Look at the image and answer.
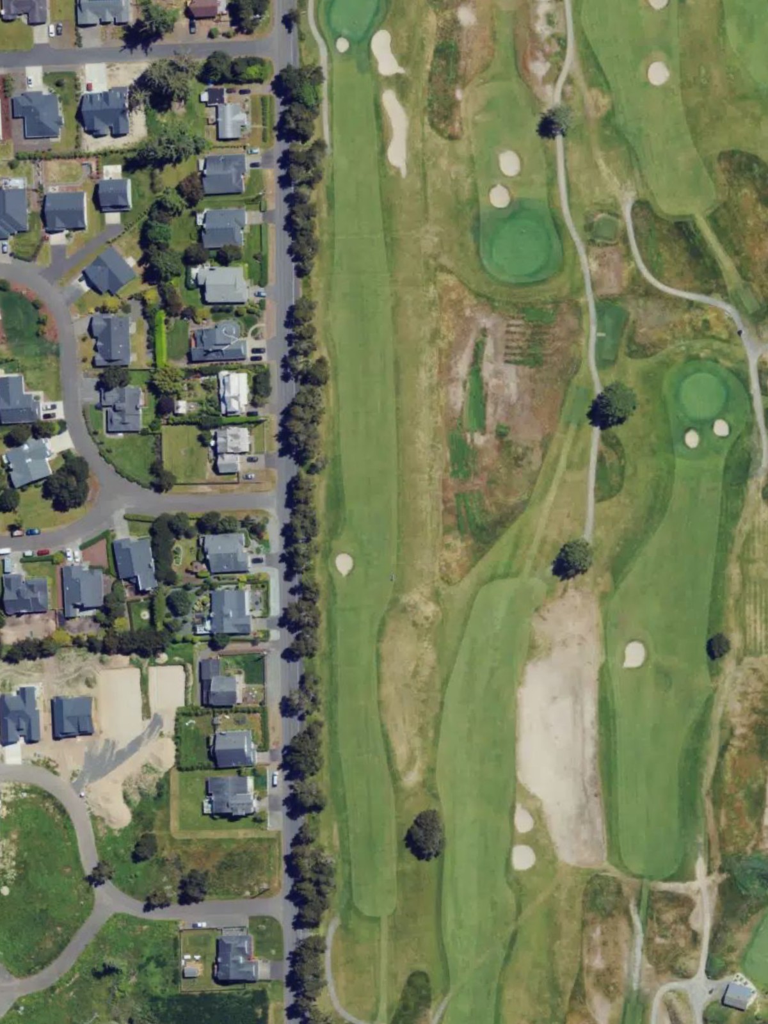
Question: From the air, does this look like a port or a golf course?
golf course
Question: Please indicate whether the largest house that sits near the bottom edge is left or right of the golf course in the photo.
left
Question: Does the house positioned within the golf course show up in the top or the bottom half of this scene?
bottom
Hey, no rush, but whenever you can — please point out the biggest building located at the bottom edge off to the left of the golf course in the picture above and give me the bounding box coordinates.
[217,935,258,983]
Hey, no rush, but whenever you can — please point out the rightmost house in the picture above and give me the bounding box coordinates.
[723,984,755,1010]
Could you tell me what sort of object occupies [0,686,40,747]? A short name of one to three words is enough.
house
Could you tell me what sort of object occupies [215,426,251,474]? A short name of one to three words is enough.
house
